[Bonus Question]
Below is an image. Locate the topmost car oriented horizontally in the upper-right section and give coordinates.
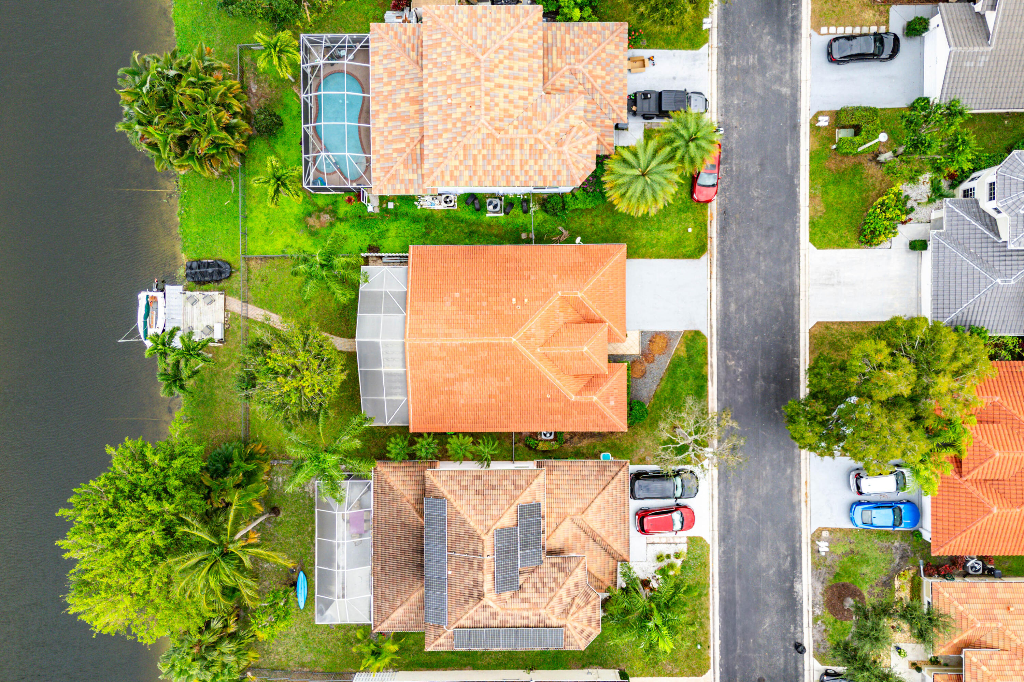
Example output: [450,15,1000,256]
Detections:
[825,30,896,68]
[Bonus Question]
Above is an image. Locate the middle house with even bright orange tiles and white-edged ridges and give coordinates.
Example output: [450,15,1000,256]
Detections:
[403,242,629,434]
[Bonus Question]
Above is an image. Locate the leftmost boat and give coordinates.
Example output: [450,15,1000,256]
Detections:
[116,268,161,345]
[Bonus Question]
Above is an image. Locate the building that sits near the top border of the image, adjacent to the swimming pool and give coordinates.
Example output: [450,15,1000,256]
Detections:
[369,3,629,197]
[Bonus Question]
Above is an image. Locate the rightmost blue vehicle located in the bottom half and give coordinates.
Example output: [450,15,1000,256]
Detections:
[849,499,919,532]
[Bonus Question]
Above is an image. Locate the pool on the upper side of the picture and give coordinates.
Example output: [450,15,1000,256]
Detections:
[312,68,370,183]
